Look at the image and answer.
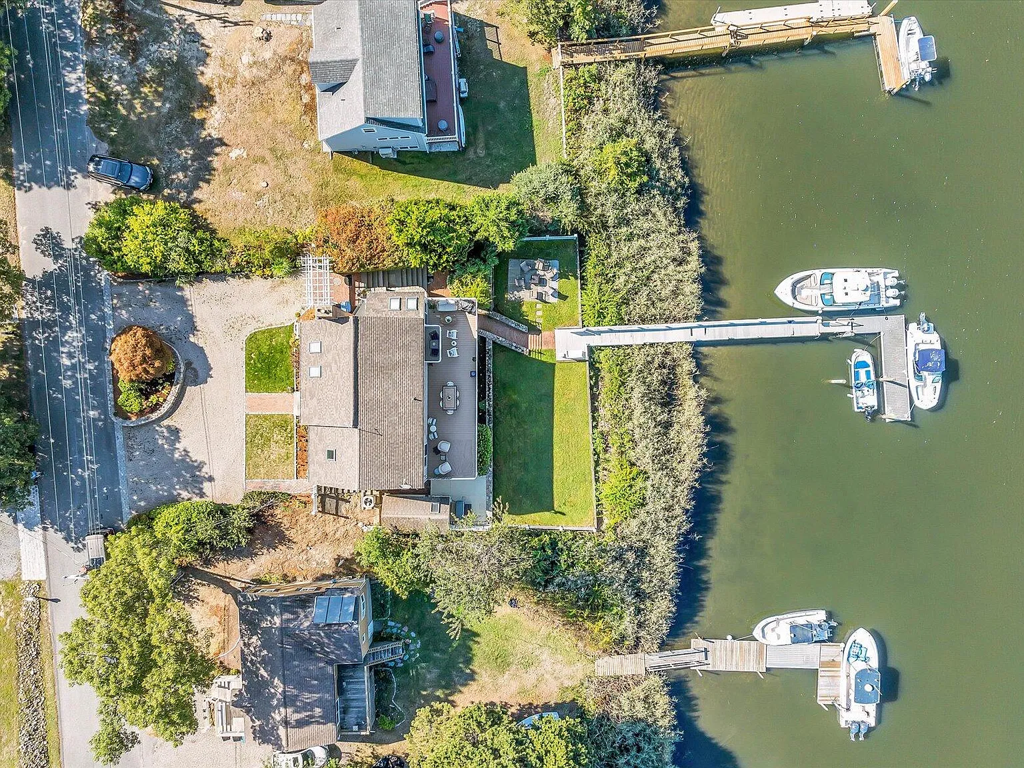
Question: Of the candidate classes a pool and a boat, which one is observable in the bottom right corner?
boat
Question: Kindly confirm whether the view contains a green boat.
No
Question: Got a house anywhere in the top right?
No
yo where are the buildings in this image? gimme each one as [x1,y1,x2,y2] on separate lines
[299,282,478,496]
[305,0,461,157]
[239,580,404,748]
[381,493,451,538]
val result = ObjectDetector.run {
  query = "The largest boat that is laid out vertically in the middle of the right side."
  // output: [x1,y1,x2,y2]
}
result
[903,309,946,409]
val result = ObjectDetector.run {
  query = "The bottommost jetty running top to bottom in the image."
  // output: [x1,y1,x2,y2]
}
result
[816,642,844,706]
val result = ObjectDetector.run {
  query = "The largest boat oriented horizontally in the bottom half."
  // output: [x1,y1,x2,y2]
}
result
[753,606,841,643]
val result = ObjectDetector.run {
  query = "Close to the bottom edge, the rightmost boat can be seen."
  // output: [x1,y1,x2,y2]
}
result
[837,628,886,737]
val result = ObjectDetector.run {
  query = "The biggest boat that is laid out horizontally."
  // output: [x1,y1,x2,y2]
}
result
[774,268,904,311]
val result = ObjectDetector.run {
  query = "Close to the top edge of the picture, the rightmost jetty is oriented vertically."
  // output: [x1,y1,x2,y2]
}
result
[870,15,908,95]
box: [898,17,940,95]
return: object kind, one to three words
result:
boat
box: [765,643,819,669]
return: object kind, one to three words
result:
pier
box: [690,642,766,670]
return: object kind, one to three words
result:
pier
